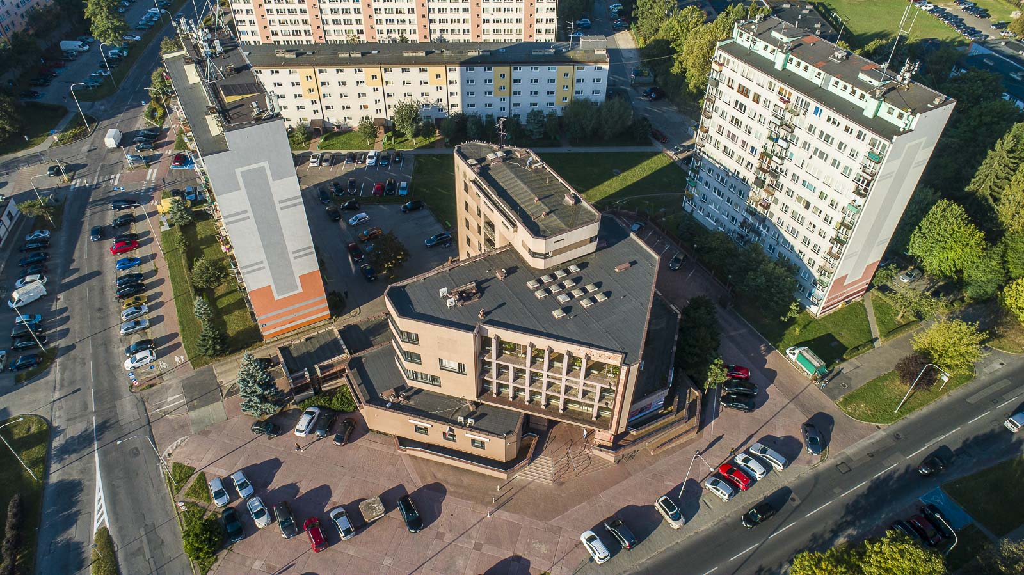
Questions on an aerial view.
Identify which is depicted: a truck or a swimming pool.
truck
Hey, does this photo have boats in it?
No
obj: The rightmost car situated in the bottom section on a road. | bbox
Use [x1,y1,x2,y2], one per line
[1003,409,1024,433]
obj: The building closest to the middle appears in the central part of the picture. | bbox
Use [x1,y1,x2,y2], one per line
[337,107,678,463]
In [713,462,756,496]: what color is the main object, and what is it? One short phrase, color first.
red car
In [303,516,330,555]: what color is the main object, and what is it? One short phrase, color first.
red car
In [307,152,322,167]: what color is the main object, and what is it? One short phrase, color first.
white car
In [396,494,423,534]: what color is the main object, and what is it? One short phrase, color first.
black car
